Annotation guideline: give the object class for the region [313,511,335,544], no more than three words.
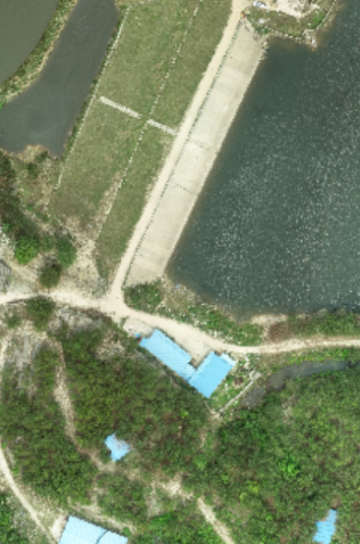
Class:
shed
